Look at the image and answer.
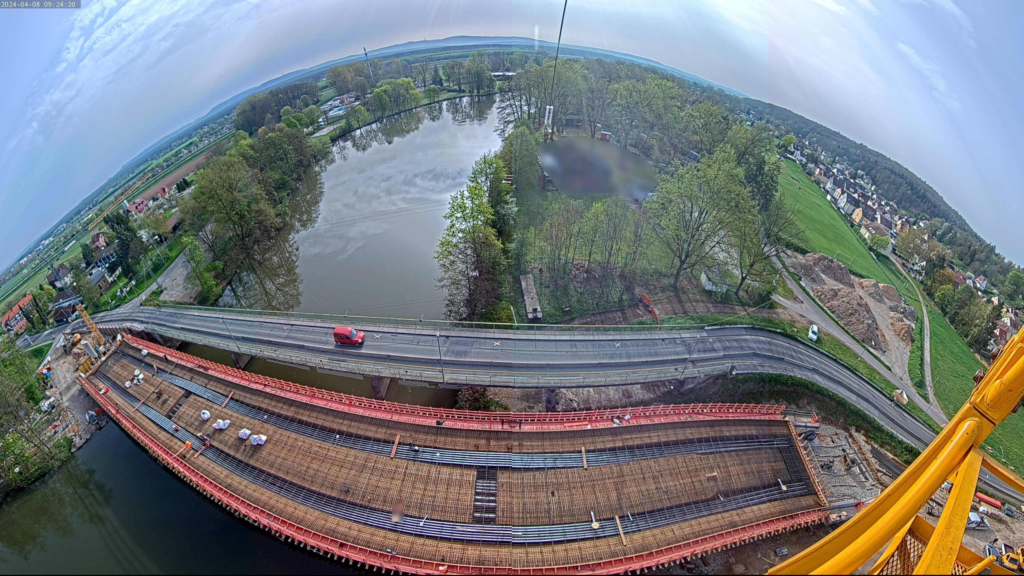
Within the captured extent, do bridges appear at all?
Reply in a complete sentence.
Yes, a bridge is visible in the scene.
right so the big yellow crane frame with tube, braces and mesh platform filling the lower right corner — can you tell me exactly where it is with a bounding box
[754,325,1024,576]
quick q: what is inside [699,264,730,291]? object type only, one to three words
shed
